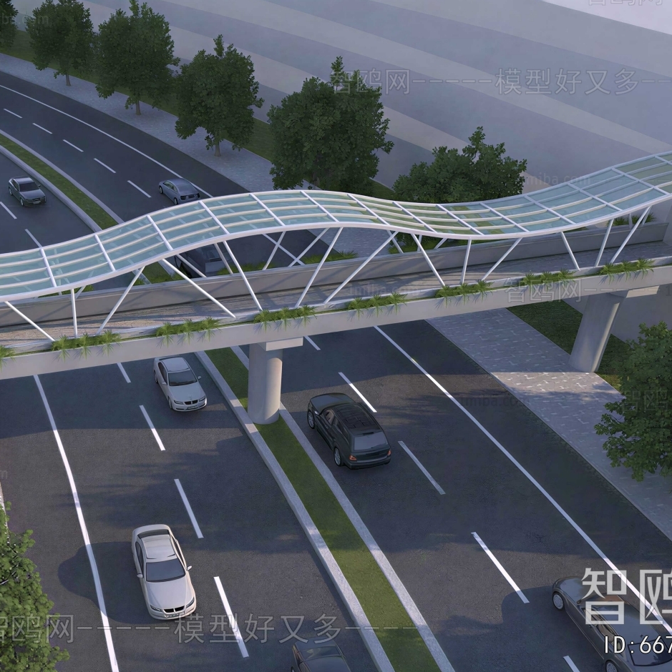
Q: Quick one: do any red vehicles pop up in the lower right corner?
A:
No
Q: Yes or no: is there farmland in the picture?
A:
No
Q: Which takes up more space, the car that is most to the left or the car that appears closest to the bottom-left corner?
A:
the car that appears closest to the bottom-left corner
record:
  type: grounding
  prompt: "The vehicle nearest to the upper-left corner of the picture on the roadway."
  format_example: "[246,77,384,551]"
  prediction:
[9,174,48,206]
